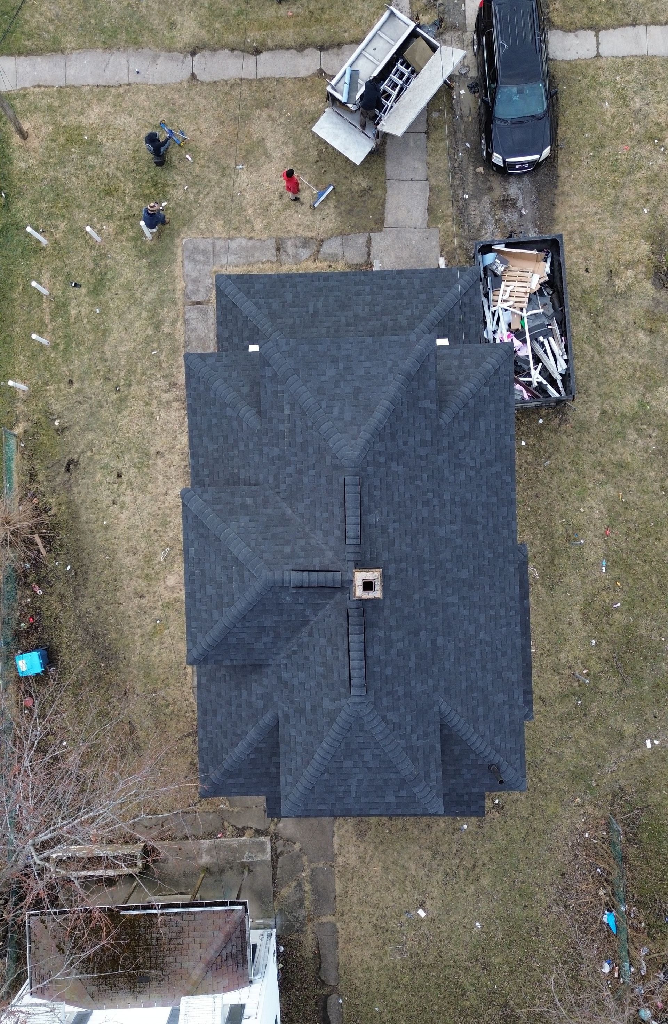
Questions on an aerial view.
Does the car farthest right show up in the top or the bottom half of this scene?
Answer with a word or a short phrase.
top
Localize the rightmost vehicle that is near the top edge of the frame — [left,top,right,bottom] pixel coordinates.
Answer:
[472,0,565,175]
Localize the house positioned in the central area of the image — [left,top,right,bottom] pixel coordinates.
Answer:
[177,261,534,821]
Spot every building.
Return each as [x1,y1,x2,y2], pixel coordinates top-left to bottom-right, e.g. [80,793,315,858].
[0,865,277,1024]
[177,261,534,821]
